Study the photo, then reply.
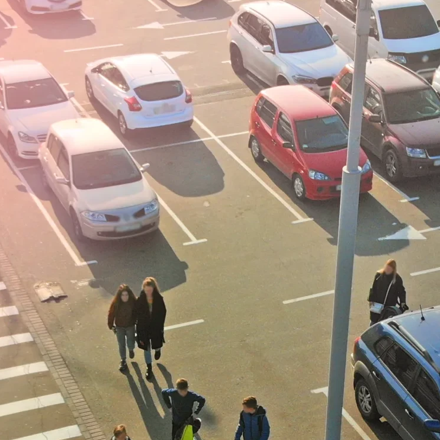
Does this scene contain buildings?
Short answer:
No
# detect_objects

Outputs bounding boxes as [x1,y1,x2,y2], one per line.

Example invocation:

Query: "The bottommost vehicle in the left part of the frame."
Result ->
[35,118,162,244]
